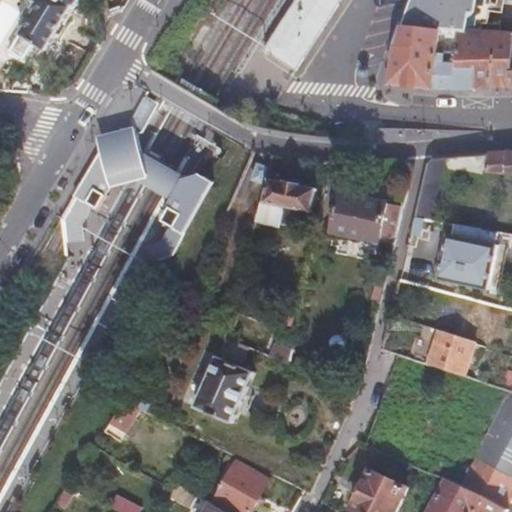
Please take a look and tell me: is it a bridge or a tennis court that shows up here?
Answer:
bridge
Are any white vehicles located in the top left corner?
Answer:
Yes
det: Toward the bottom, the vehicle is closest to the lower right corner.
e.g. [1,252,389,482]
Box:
[370,386,384,406]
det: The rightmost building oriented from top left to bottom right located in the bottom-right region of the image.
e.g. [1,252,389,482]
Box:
[474,459,512,506]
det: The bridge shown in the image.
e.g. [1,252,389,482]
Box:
[148,66,250,147]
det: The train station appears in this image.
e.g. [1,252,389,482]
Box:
[0,0,285,512]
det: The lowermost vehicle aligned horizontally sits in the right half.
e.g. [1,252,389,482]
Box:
[410,262,432,274]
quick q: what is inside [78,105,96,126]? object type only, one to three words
car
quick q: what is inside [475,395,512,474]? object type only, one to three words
shed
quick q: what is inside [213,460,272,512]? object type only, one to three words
house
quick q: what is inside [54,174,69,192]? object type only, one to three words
car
